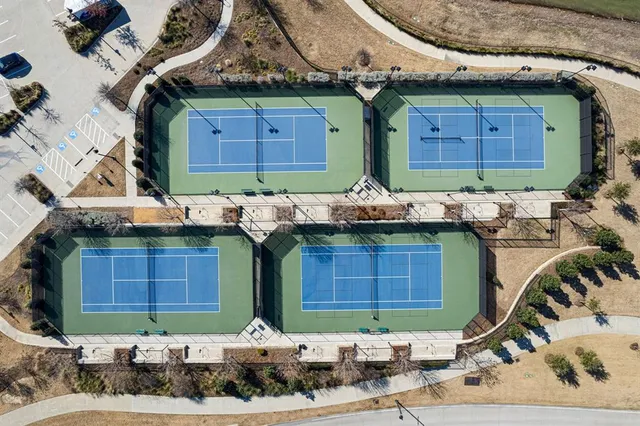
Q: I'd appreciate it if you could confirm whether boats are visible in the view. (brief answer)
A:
No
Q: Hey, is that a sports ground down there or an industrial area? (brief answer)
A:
sports ground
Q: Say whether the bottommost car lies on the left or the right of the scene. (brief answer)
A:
left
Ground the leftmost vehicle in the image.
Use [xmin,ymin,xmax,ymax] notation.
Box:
[0,56,28,76]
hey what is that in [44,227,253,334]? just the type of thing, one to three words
tennis court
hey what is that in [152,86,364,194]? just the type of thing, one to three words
tennis court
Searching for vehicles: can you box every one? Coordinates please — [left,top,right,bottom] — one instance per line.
[67,0,113,22]
[0,56,28,76]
